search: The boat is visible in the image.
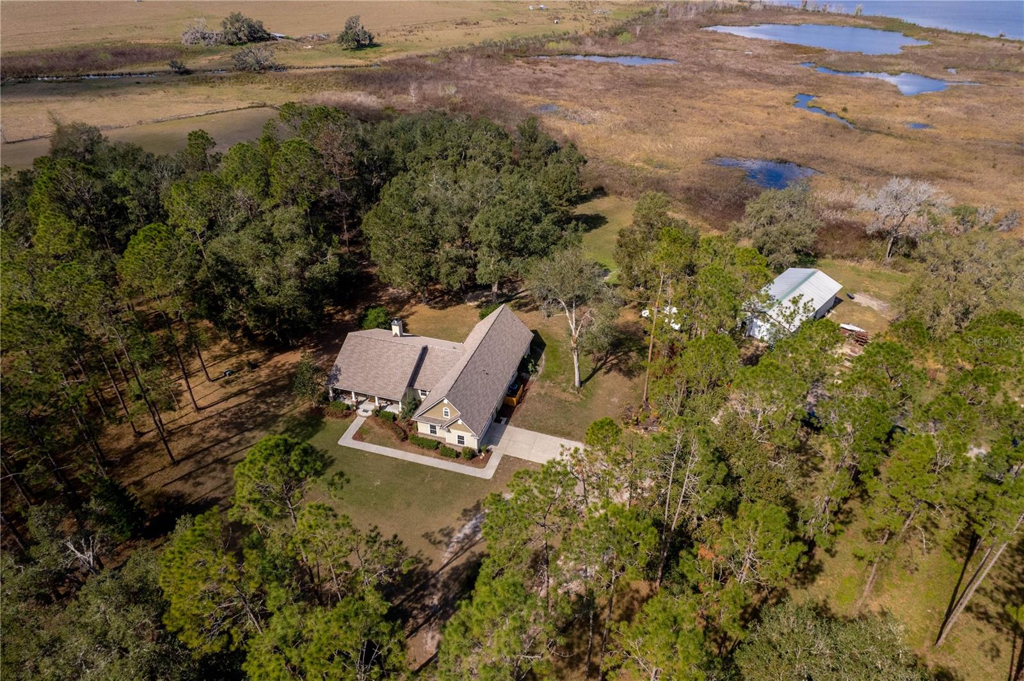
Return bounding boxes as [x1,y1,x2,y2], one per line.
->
[837,322,870,336]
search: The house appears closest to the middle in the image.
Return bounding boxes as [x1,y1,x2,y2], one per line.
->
[328,304,534,453]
